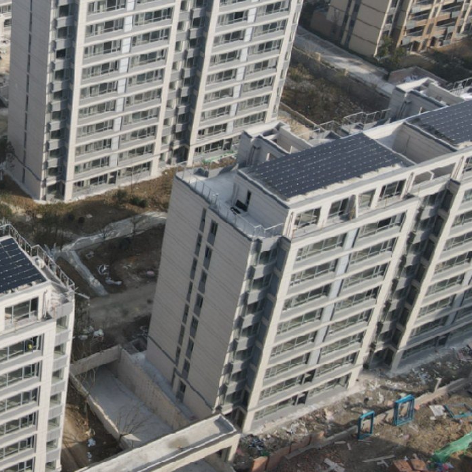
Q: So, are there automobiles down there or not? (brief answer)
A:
No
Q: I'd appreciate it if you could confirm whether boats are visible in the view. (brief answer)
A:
No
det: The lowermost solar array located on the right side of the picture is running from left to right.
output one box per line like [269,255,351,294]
[245,133,404,200]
